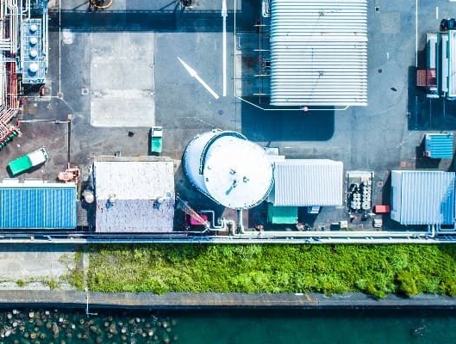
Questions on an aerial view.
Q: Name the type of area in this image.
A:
industrial area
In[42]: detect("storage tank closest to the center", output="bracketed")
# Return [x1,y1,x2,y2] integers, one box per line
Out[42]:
[176,124,279,211]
